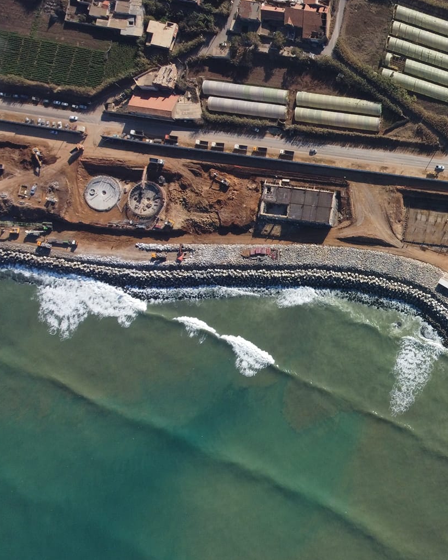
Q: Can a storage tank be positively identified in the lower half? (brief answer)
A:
No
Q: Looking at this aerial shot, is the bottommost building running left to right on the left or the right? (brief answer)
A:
right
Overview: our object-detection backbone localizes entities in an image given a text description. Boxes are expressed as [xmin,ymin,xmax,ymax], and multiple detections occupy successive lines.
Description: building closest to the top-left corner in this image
[78,0,113,18]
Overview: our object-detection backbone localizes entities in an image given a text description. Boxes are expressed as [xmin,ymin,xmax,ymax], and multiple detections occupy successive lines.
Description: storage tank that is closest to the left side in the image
[84,175,127,213]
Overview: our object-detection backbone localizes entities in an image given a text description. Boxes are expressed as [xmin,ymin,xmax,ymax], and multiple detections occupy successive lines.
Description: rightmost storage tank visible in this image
[128,172,171,222]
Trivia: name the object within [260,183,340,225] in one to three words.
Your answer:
building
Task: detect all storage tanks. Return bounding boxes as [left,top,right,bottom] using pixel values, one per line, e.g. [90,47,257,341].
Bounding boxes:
[128,172,171,222]
[84,175,127,213]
